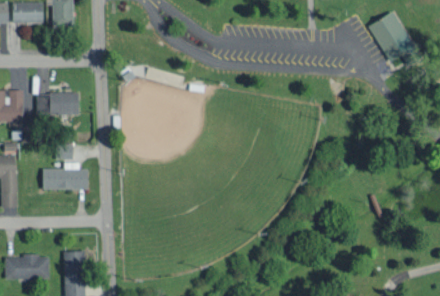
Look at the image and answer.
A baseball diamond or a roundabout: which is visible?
baseball diamond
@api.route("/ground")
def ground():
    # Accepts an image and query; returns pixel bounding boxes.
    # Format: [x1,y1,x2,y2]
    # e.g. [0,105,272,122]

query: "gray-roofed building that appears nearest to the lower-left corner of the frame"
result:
[5,254,49,280]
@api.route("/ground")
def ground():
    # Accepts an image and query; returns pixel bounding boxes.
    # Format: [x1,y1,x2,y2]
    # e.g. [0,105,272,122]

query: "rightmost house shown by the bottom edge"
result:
[64,251,86,296]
